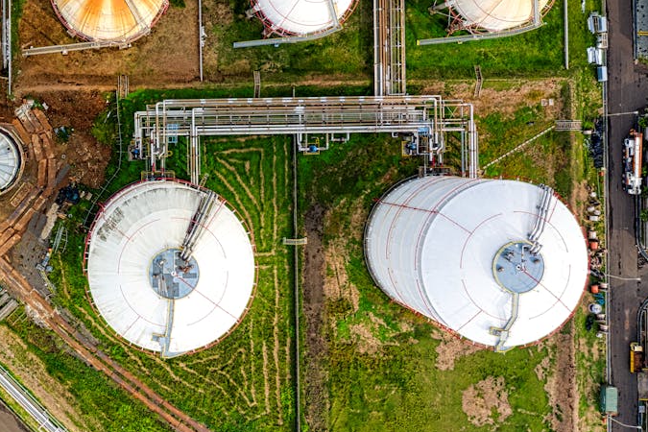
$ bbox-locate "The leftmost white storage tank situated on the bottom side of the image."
[84,174,259,356]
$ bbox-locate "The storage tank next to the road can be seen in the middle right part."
[360,170,594,353]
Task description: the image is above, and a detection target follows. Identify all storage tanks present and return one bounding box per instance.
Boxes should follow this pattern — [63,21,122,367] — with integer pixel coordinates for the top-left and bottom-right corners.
[418,0,559,46]
[0,122,29,197]
[234,0,361,50]
[84,174,259,356]
[22,0,168,55]
[360,170,594,353]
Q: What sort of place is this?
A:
industrial area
